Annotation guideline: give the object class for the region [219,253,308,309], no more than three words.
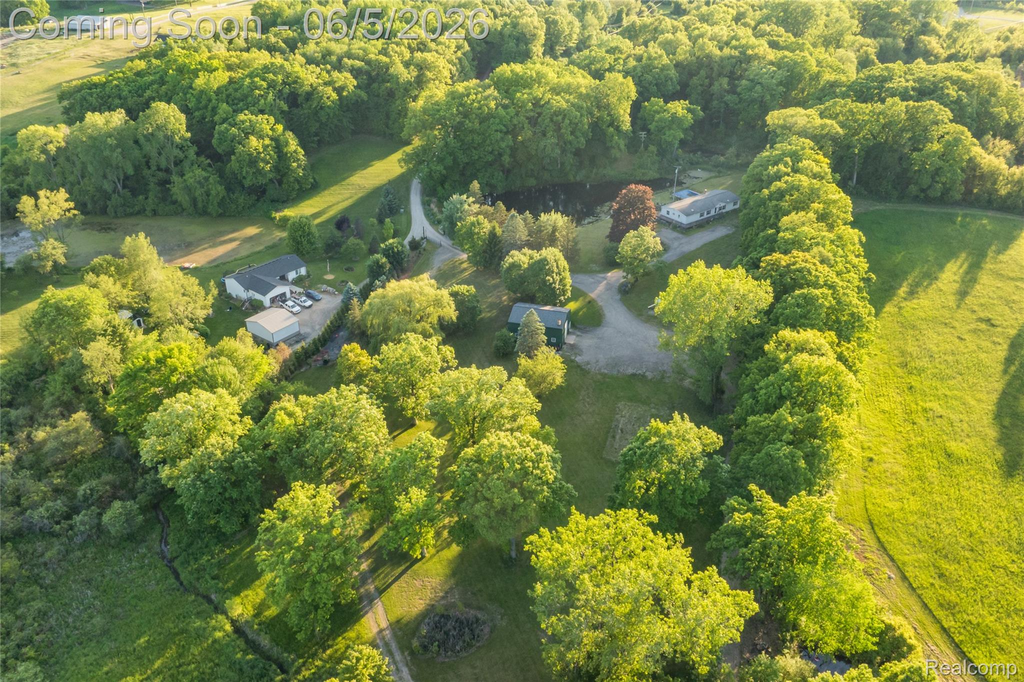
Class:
house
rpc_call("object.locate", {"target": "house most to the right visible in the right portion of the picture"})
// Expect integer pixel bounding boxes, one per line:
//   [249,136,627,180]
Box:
[664,186,741,229]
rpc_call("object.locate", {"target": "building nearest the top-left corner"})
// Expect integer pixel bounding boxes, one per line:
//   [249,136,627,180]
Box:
[62,13,113,30]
